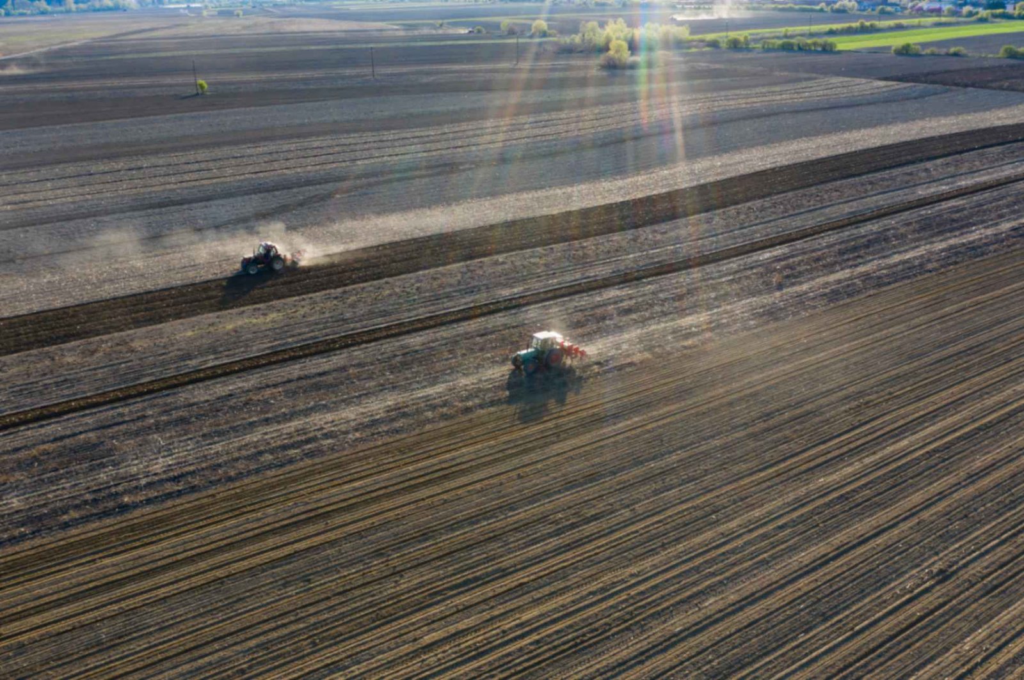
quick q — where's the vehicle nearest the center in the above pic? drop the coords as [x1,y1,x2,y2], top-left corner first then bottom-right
[515,335,568,377]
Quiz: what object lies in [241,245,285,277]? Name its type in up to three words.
work vehicle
